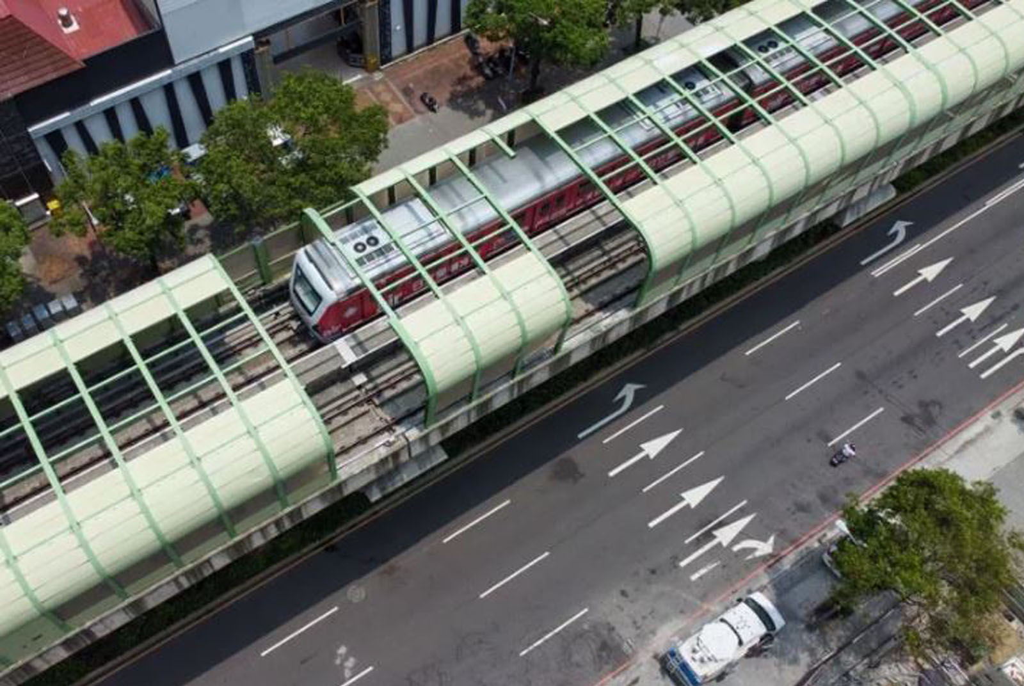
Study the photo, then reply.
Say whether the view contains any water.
No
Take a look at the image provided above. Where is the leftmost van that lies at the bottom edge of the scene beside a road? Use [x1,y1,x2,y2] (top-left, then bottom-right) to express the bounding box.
[658,587,778,686]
